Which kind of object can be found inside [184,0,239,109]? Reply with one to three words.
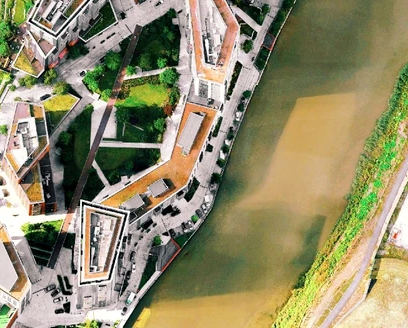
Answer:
building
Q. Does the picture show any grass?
Yes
